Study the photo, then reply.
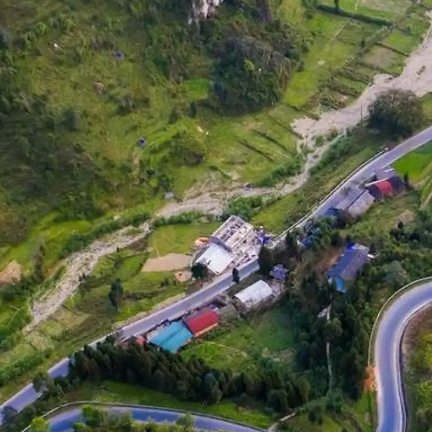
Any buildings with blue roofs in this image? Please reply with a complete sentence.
Yes, I can see a building with a blue roof in this picture.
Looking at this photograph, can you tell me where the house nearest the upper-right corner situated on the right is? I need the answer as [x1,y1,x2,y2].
[366,176,406,201]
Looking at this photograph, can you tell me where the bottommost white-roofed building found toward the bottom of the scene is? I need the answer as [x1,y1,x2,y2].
[234,281,273,309]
